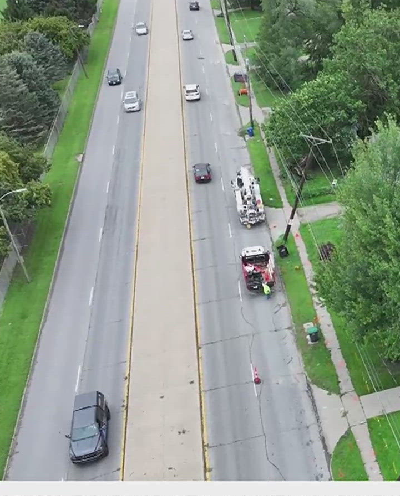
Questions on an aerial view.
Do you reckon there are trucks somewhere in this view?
Yes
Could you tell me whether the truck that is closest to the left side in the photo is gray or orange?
gray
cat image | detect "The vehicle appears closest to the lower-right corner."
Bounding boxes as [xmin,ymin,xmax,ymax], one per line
[238,245,272,291]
